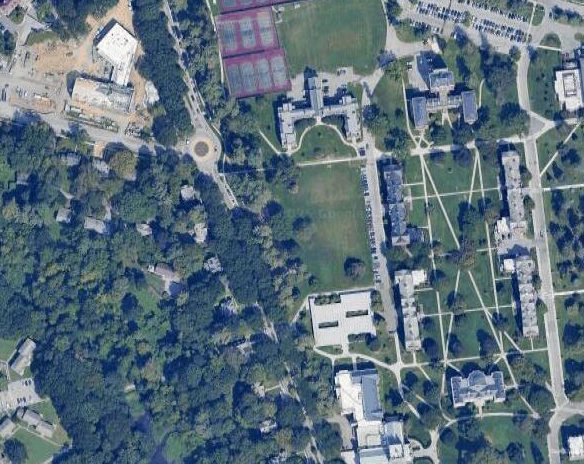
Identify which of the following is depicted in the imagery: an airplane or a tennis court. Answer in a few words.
tennis court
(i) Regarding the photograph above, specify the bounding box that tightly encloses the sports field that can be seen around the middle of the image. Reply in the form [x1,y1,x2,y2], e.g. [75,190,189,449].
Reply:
[275,159,382,294]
